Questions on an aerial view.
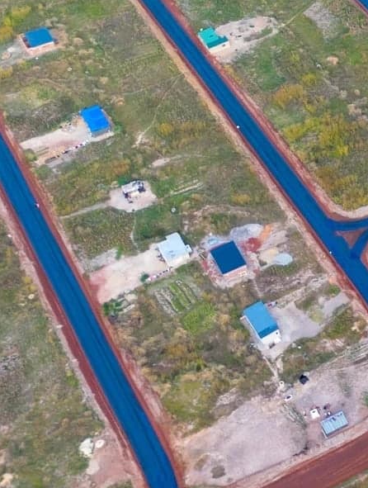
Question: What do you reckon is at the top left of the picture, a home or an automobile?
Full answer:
The one visible at the top left of the picture is a home.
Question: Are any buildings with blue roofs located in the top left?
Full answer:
Yes, a building with a blue roof shows up in the top left.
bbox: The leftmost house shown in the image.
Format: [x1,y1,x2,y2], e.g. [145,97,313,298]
[29,25,57,52]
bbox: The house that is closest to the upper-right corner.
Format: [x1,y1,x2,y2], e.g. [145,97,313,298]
[201,23,229,52]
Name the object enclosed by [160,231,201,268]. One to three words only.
house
